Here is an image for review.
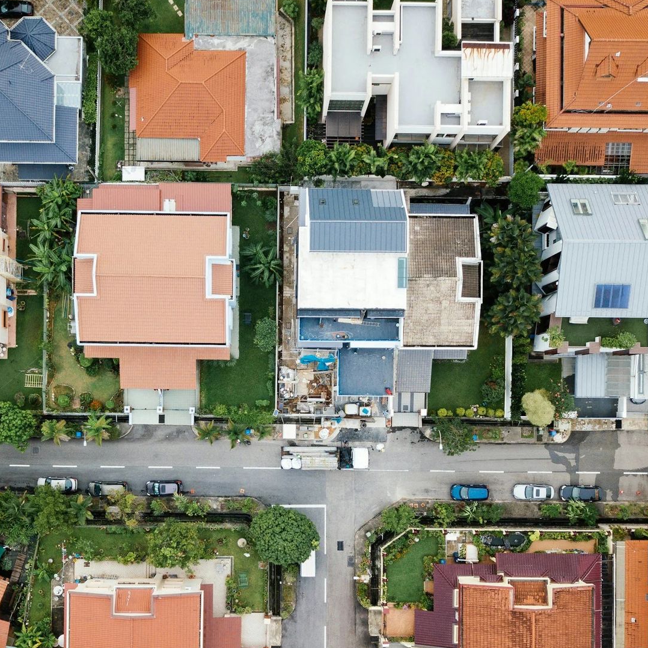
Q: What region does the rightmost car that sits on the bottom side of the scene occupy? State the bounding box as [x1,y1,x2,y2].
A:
[559,483,601,503]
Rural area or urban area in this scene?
urban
